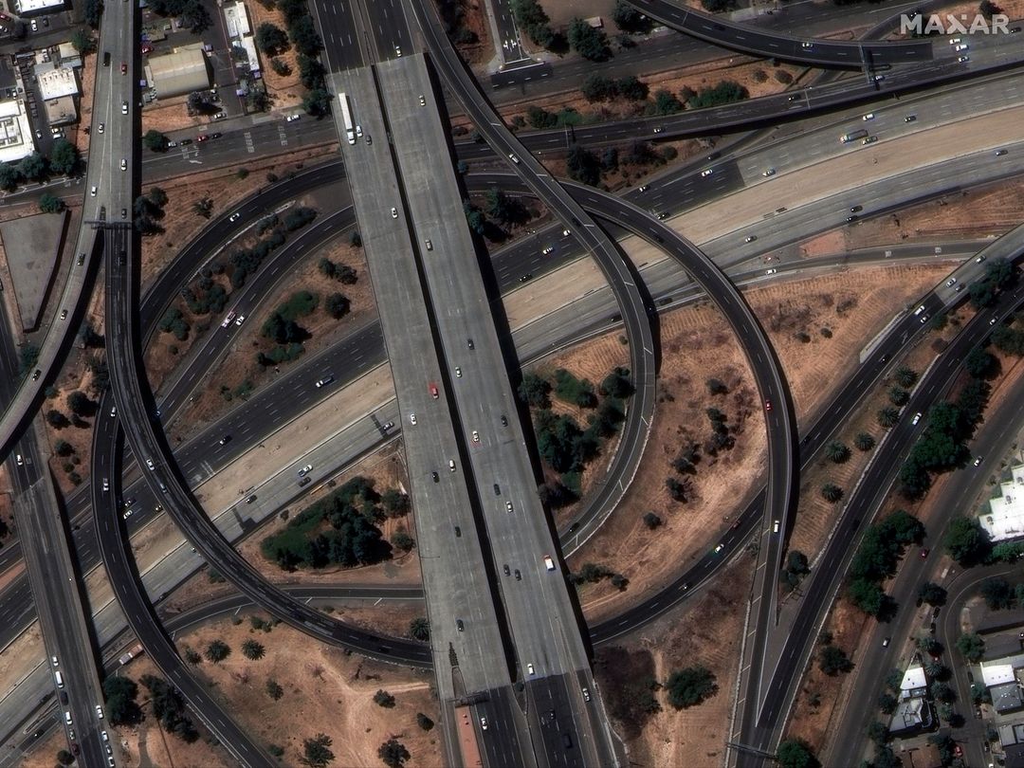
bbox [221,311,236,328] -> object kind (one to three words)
vehicle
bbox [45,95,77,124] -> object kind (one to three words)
building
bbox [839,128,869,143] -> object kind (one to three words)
vehicle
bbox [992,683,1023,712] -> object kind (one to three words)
house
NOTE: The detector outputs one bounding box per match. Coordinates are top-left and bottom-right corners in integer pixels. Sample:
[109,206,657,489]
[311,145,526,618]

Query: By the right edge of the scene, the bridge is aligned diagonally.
[864,223,1024,389]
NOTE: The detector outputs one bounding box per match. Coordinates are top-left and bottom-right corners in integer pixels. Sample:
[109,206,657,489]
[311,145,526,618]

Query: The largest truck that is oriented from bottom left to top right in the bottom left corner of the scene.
[113,645,144,667]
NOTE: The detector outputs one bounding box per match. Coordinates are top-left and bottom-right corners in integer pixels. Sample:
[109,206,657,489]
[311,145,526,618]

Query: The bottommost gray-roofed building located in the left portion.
[0,210,67,331]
